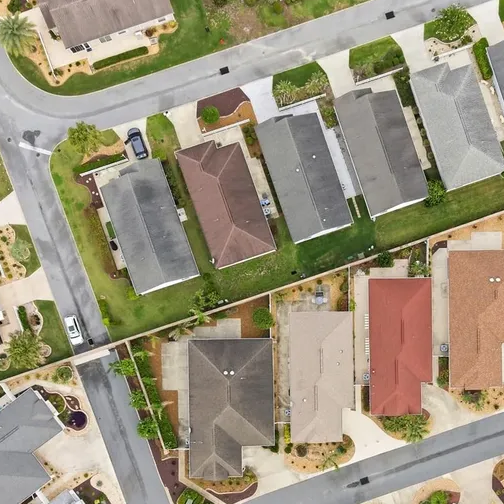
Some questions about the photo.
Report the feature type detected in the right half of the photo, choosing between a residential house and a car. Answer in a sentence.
Visible in the right half of the photo is a residential house.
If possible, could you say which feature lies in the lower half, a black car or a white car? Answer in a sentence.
The one visible in the lower half is a white car.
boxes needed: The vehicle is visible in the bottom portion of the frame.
[63,314,86,346]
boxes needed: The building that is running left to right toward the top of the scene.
[40,0,175,55]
